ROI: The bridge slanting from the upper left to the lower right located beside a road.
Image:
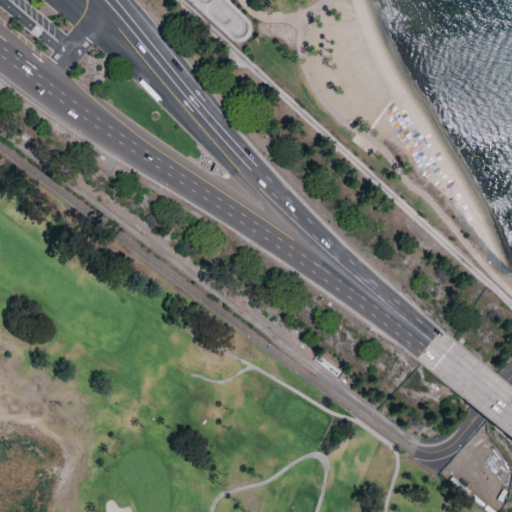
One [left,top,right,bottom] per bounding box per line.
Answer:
[419,336,512,438]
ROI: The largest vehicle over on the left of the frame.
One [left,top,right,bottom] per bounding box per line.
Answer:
[135,76,164,103]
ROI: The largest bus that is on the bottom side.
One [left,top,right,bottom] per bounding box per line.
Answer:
[314,356,341,376]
